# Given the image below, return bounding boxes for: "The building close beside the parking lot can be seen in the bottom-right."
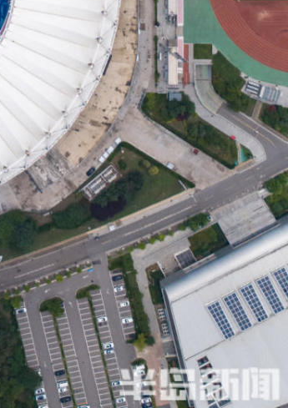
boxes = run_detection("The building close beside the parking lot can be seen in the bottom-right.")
[155,211,288,408]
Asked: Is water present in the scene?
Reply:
No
